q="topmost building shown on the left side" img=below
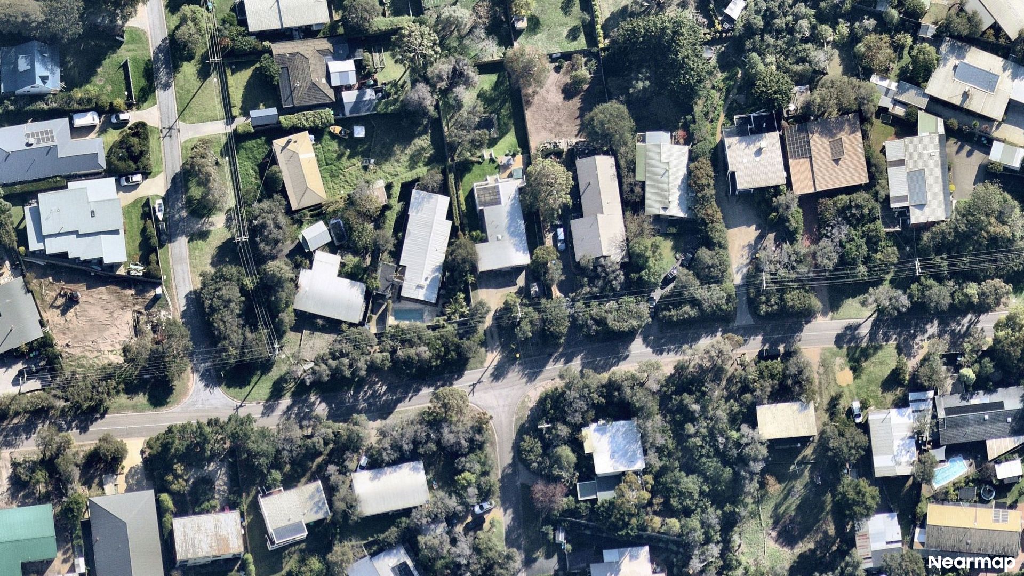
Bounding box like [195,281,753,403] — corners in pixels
[234,0,329,39]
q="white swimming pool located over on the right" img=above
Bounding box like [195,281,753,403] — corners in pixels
[932,455,970,490]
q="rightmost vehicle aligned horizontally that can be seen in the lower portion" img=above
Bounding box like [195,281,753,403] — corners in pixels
[758,347,783,359]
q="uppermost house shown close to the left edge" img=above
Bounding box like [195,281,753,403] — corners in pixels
[0,40,65,100]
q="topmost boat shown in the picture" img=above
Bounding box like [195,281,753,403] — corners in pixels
[328,126,349,139]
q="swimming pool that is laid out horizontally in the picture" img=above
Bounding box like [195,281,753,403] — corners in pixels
[392,307,425,323]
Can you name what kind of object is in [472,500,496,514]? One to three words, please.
car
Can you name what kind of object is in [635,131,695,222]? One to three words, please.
house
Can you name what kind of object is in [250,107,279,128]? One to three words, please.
shed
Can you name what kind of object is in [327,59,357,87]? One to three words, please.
building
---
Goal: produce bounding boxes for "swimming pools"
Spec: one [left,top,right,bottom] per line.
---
[392,307,425,323]
[932,455,970,490]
